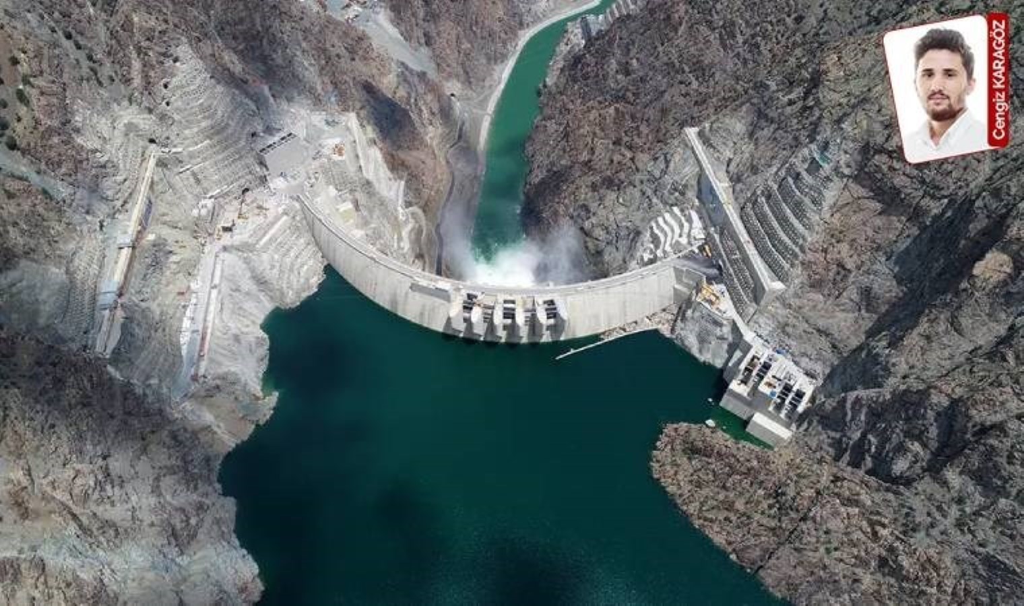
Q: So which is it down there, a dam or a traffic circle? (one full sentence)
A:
Looking from above, you can make out a dam.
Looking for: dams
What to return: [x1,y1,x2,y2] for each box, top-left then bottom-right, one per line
[295,197,707,343]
